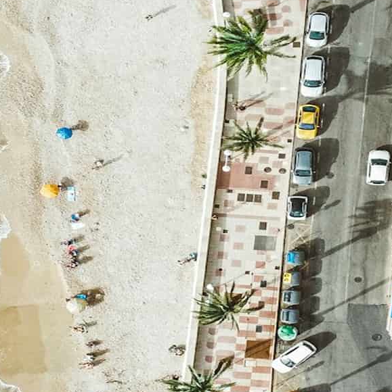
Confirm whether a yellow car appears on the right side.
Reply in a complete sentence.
Yes, the scene does show a yellow car on the right side.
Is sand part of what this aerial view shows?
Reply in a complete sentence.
Yes, sand can be seen from above here.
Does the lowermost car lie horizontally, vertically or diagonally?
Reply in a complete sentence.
The lowermost car is oriented diagonally.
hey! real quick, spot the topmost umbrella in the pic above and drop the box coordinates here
[56,127,71,140]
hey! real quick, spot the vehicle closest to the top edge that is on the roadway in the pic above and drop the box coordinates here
[305,10,330,49]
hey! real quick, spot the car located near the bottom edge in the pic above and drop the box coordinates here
[274,338,317,375]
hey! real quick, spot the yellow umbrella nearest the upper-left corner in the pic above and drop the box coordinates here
[41,183,58,197]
